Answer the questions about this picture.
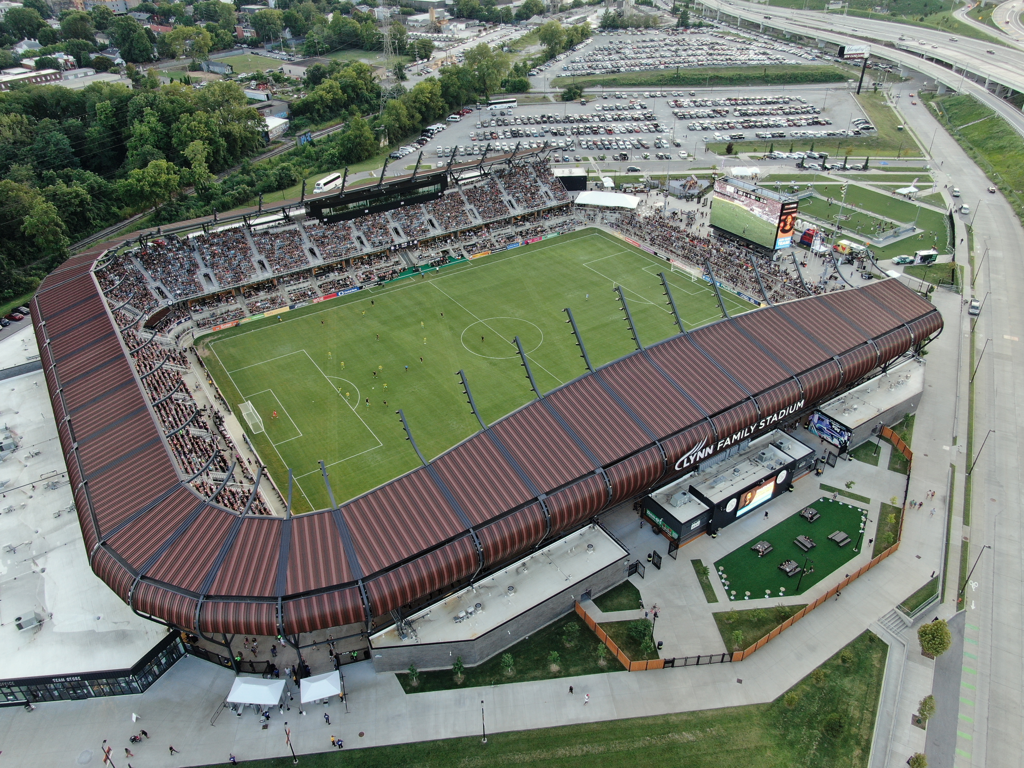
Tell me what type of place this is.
sports ground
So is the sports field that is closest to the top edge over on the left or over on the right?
right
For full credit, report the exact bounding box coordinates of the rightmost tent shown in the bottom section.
[301,671,343,714]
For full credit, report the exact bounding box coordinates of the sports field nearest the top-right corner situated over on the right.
[769,184,950,260]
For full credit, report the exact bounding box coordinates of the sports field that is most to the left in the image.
[196,232,755,512]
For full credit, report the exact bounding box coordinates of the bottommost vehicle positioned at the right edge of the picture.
[969,297,982,312]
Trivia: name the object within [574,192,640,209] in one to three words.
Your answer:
tent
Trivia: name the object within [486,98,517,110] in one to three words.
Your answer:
vehicle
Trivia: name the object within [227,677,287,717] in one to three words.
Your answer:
tent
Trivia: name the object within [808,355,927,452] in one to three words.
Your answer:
building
